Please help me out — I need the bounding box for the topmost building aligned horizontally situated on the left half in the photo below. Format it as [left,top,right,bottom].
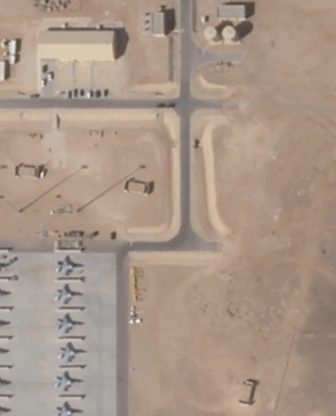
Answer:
[37,30,116,61]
